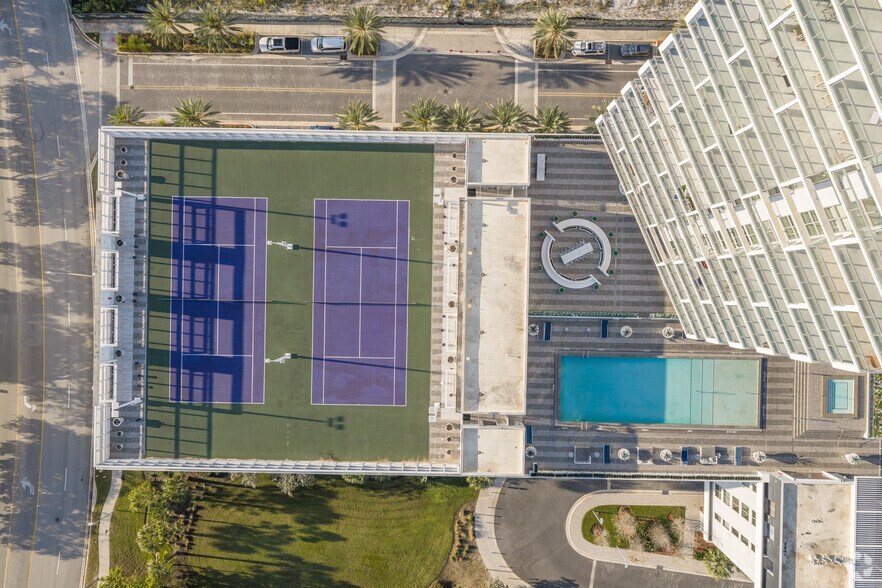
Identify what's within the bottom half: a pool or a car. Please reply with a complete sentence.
What appears within the bottom half is a pool.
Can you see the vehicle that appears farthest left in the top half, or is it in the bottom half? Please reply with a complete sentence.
Seen from above, the vehicle that appears farthest left lies in the top half of the view.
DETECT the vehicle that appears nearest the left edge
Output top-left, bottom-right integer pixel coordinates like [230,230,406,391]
[259,37,301,57]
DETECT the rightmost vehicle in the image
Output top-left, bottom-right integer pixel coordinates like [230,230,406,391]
[619,41,651,59]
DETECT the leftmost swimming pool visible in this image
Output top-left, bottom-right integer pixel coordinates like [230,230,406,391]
[551,350,769,436]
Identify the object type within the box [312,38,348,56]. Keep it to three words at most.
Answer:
car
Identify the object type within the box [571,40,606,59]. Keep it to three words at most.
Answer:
vehicle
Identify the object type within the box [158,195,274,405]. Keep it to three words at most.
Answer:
tennis court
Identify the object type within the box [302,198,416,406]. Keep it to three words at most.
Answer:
tennis court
